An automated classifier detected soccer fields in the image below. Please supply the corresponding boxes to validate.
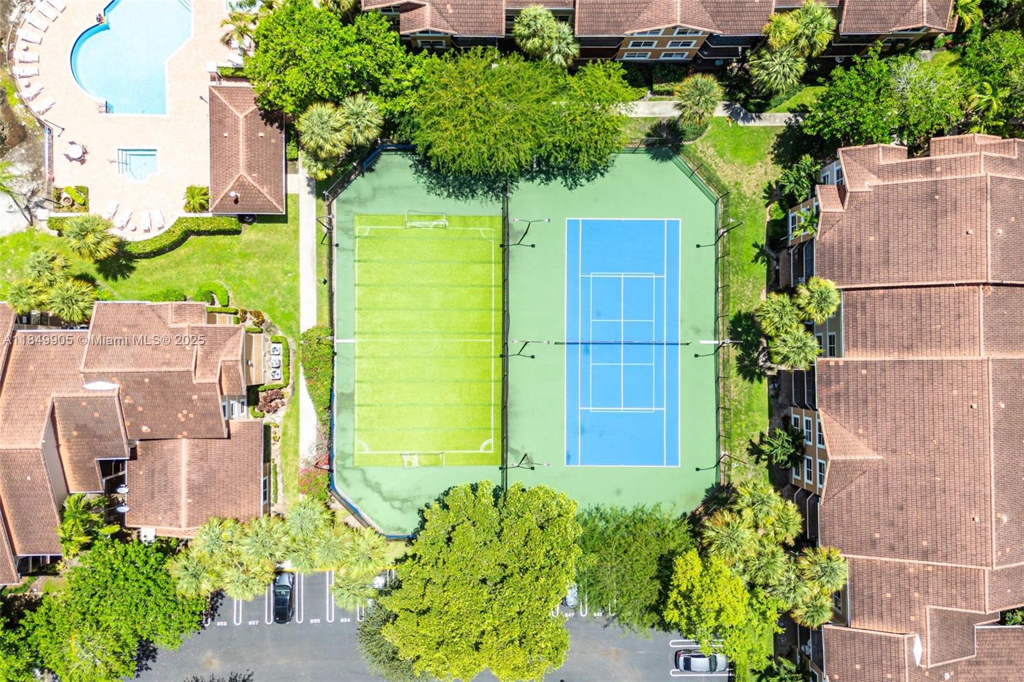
[335,151,505,536]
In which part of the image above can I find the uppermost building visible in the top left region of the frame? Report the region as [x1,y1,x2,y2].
[208,85,286,214]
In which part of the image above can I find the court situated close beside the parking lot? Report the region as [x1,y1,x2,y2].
[509,149,716,535]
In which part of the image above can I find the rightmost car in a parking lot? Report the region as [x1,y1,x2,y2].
[675,649,726,675]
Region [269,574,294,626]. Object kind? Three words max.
car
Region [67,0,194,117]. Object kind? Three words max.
swimming pool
